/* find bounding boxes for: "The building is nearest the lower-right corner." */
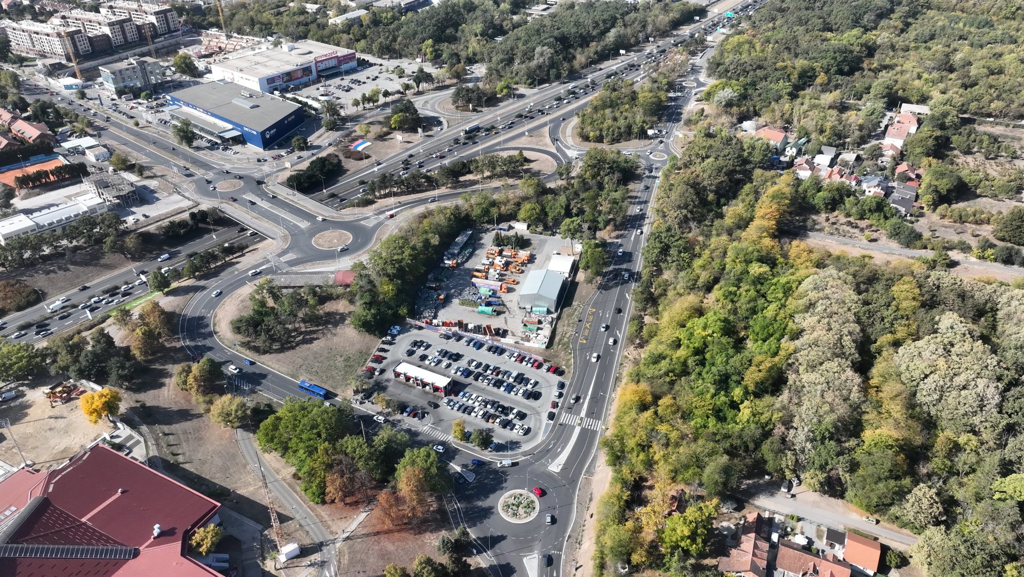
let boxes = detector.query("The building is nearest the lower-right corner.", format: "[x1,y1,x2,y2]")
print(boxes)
[841,531,881,577]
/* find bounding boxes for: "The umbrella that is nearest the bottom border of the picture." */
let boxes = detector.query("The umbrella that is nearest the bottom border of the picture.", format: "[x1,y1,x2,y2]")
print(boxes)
[793,533,809,547]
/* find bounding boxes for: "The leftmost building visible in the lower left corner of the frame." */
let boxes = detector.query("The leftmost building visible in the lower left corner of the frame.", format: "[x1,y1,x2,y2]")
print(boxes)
[0,442,228,577]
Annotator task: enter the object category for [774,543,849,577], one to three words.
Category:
house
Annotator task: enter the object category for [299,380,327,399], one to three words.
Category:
vehicle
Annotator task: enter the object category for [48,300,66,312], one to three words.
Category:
vehicle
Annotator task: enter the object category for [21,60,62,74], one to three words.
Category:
building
